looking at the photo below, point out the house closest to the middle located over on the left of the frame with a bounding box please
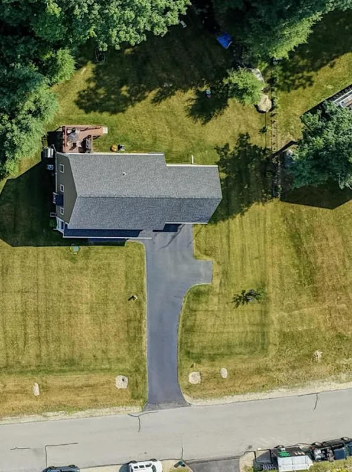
[39,125,224,240]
